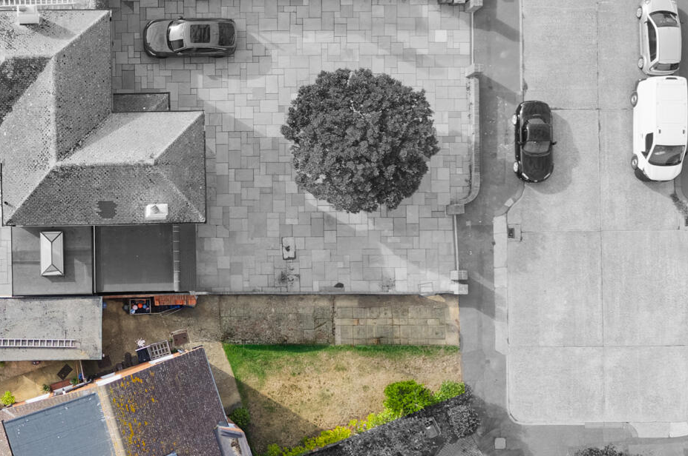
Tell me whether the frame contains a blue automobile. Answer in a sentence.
No, no blue automobile is visible in the view.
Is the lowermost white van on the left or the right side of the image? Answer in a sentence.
The lowermost white van sits on the right side.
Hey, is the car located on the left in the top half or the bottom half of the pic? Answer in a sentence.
Seen from above, the car located on the left lies in the top half of the view.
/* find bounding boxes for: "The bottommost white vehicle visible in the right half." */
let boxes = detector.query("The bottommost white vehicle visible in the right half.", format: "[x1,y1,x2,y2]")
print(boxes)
[626,70,688,183]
